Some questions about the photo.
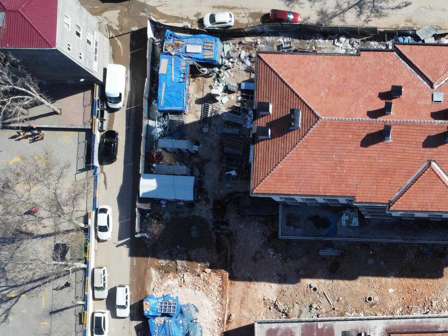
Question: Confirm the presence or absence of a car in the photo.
Yes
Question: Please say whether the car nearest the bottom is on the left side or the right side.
left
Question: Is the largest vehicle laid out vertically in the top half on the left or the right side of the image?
left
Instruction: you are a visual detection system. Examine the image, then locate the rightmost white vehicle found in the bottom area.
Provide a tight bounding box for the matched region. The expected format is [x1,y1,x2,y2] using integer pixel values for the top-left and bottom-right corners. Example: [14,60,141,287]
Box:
[112,284,130,318]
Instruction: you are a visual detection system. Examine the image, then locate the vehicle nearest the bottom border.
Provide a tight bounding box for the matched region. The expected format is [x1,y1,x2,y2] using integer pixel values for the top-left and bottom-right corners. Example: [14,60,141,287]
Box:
[89,310,109,336]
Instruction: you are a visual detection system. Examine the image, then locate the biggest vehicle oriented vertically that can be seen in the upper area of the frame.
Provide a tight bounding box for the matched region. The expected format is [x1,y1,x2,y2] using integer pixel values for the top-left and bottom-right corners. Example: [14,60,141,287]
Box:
[102,60,125,108]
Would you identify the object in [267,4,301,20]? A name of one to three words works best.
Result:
car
